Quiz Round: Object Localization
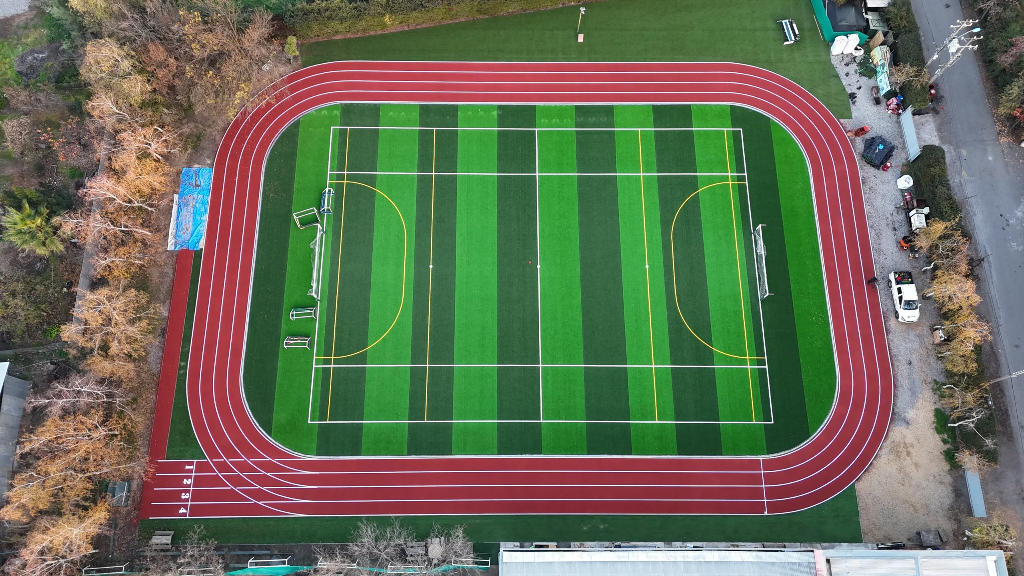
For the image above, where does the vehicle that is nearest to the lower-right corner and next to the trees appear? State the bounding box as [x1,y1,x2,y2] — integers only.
[891,271,925,323]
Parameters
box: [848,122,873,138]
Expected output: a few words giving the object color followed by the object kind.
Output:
red vehicle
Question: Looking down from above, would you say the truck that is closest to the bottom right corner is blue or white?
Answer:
white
